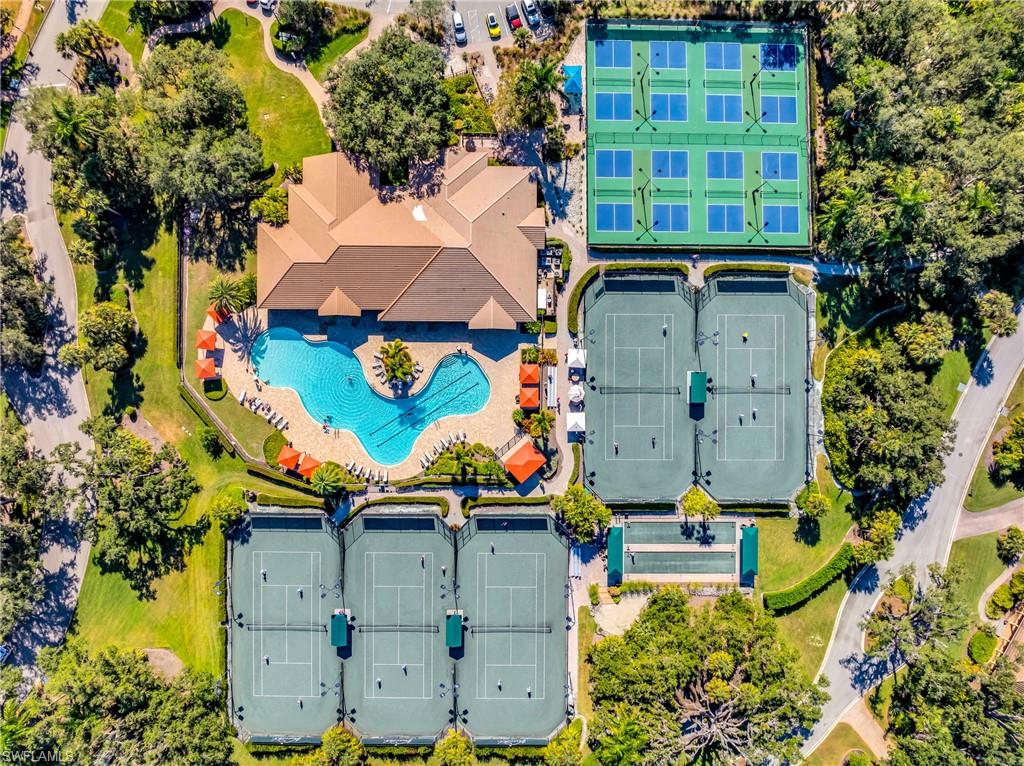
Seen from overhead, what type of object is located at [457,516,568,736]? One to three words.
tennis court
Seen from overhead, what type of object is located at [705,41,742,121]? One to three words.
sports court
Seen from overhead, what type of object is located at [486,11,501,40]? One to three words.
car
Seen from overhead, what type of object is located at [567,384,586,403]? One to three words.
umbrella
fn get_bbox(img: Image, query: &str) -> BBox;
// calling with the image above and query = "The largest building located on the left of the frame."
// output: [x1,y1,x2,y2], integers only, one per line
[256,136,547,330]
